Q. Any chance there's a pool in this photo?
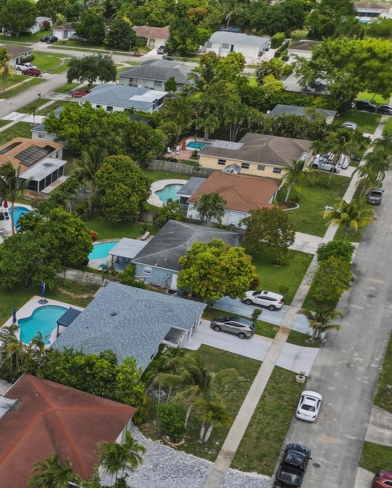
Yes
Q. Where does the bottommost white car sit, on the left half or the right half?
right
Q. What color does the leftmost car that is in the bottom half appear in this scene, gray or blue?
gray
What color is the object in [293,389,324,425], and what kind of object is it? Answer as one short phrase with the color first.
white car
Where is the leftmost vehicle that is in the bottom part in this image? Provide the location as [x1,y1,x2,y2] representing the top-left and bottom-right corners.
[208,316,258,342]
